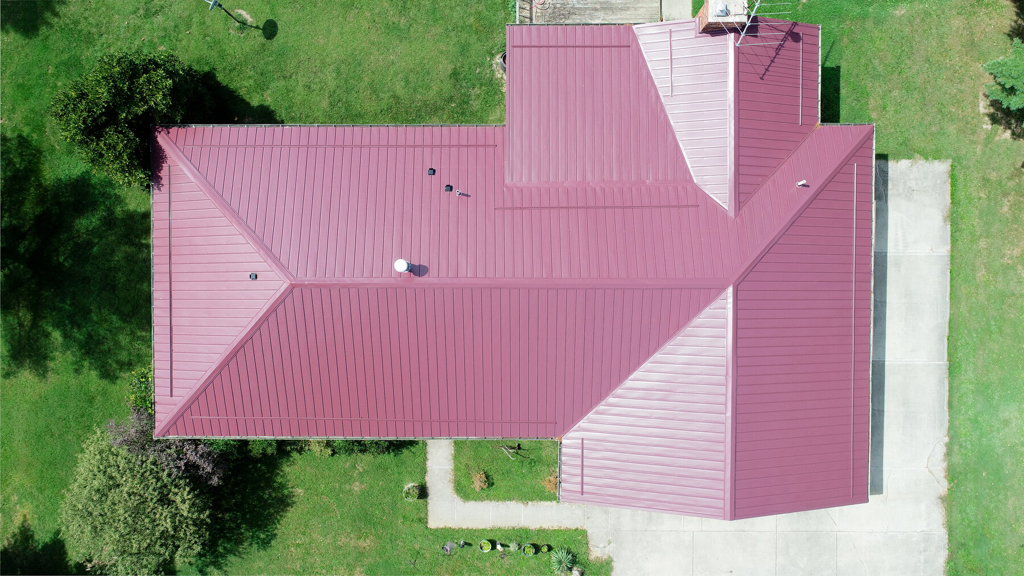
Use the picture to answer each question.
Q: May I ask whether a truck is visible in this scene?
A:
No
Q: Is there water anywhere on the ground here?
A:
No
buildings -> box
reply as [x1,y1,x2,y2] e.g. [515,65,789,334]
[149,13,876,522]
